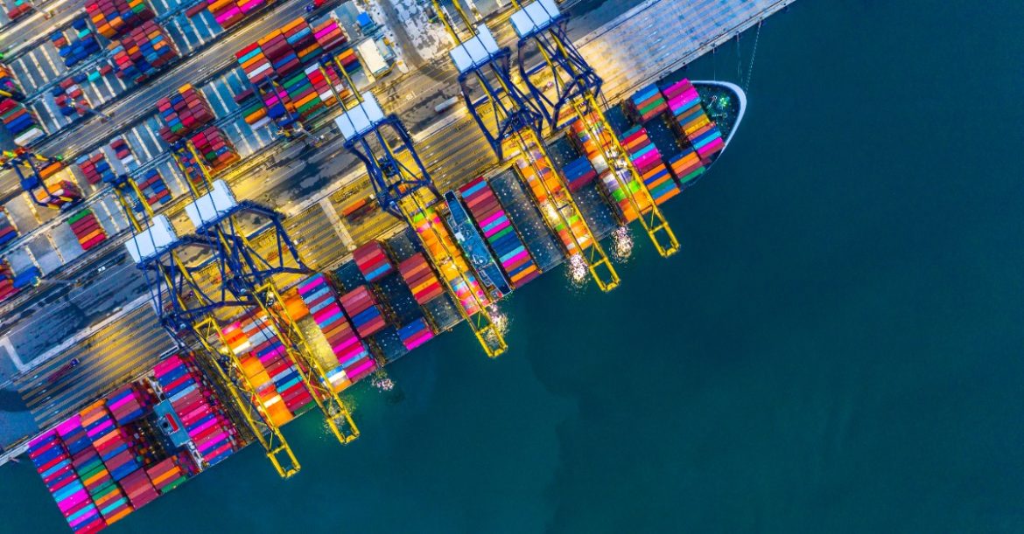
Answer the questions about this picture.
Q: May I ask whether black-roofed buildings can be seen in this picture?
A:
No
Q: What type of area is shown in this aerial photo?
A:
port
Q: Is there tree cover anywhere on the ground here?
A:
No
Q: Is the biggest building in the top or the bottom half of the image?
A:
top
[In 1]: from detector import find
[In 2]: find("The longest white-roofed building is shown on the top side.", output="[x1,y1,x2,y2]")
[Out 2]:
[357,39,390,78]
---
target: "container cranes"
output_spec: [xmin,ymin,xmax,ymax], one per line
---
[429,0,623,295]
[251,75,317,143]
[109,165,305,482]
[12,152,96,216]
[510,0,683,259]
[314,45,510,361]
[166,132,363,448]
